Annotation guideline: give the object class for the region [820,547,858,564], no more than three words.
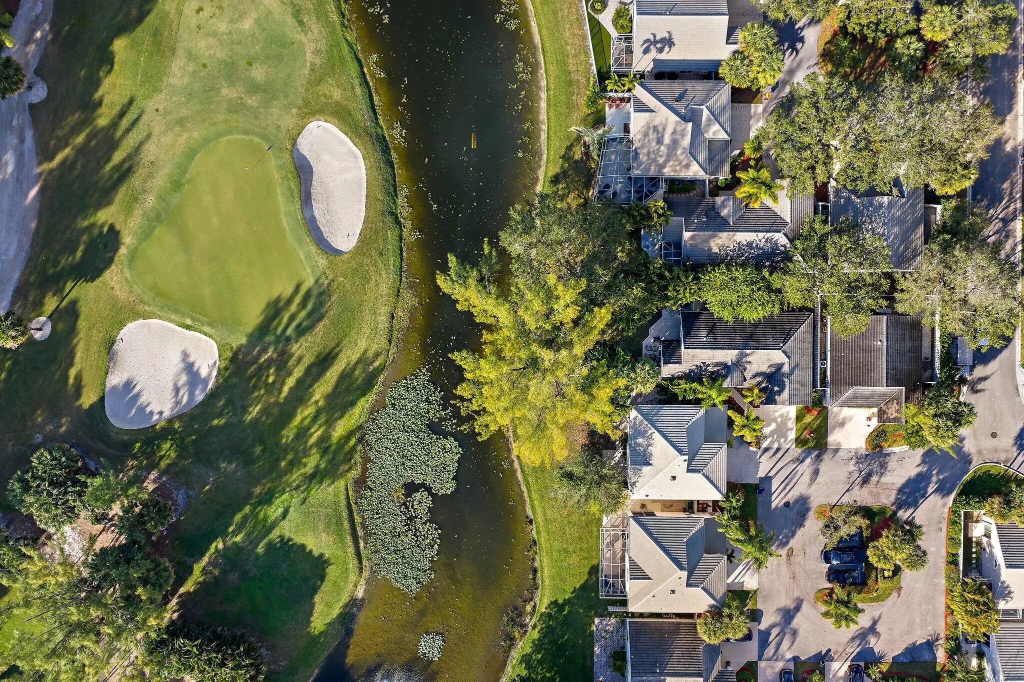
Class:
car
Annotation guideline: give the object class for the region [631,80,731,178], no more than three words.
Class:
house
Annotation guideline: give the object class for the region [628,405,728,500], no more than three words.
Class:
house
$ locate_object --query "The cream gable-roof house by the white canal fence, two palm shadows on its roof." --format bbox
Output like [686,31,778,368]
[633,0,742,71]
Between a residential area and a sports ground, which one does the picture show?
residential area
